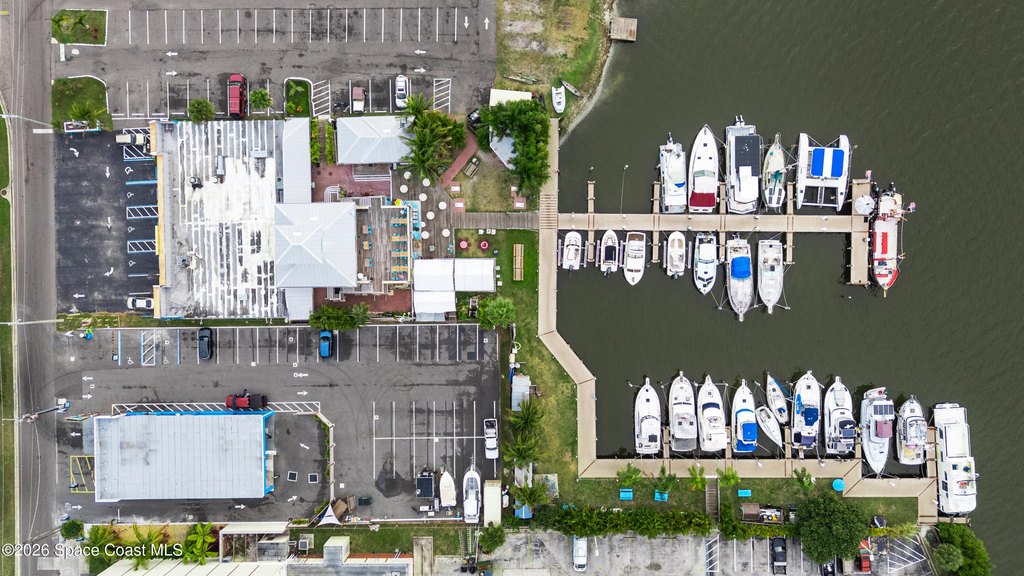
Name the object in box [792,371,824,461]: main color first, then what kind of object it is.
white boat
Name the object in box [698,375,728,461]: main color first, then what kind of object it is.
white boat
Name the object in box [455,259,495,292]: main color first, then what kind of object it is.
white tent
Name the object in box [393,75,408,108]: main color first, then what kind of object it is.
white car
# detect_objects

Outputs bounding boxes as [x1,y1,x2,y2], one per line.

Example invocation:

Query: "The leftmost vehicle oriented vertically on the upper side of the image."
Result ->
[225,75,244,118]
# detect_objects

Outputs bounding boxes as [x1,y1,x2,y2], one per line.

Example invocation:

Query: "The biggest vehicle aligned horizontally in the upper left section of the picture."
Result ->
[111,131,145,145]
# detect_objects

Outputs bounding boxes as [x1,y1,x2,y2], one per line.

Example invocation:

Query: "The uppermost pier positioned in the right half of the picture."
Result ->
[604,18,637,43]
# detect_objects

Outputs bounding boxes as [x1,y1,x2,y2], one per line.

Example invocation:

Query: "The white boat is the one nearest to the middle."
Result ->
[562,231,581,274]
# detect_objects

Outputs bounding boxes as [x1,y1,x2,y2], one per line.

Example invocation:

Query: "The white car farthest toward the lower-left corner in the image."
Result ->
[126,295,154,310]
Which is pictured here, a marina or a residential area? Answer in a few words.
marina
